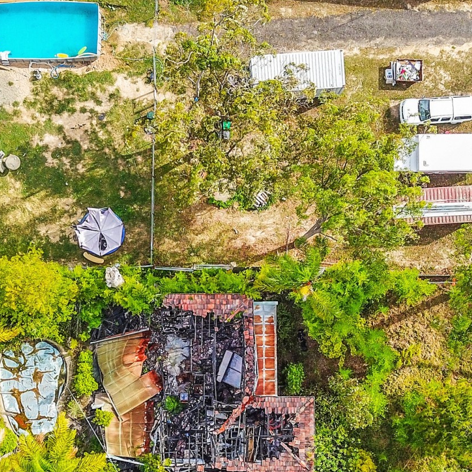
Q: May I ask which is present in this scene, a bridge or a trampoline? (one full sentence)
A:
The one in the frame is a trampoline.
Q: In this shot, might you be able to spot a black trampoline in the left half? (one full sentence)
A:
No, no black trampoline appears in the left half.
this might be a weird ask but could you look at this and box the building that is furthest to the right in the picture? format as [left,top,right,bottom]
[141,294,316,472]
